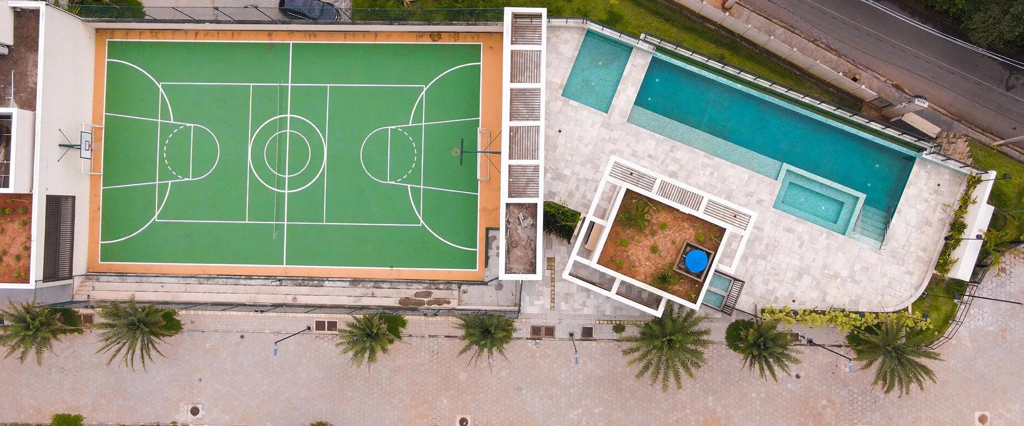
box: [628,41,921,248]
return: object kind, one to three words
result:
swimming pool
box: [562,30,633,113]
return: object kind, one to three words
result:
swimming pool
